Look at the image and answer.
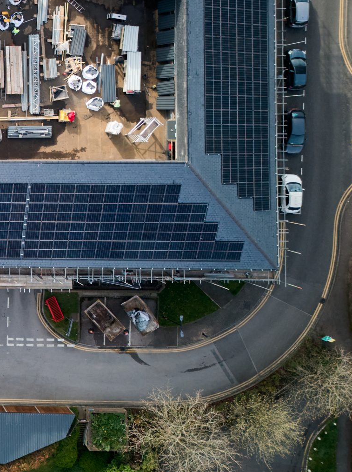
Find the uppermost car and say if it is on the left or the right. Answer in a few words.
right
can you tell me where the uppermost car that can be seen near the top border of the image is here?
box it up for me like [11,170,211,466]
[285,0,310,29]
